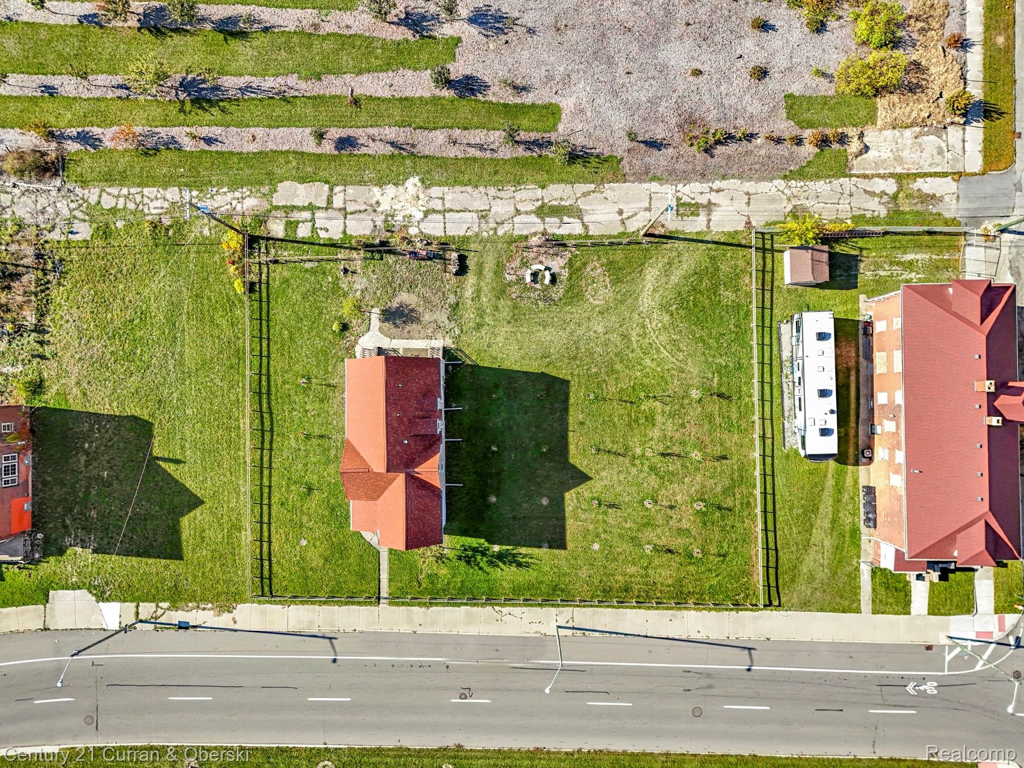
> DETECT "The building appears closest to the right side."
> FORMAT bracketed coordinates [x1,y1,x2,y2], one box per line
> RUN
[863,280,1024,578]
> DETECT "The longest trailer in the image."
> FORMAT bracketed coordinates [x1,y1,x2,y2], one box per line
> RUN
[787,306,837,468]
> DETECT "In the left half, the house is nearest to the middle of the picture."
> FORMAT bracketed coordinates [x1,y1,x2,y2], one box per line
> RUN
[339,356,465,551]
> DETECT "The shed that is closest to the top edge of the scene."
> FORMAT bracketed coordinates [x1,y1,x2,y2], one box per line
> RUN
[784,245,829,285]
